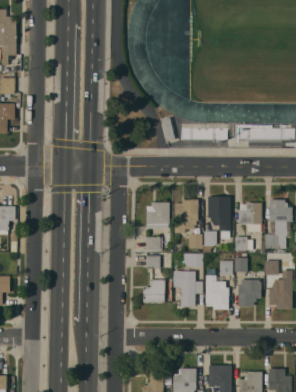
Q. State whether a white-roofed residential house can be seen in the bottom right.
Yes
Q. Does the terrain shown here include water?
No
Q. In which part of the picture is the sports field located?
top right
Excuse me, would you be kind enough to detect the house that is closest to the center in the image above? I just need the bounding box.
[147,202,171,228]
